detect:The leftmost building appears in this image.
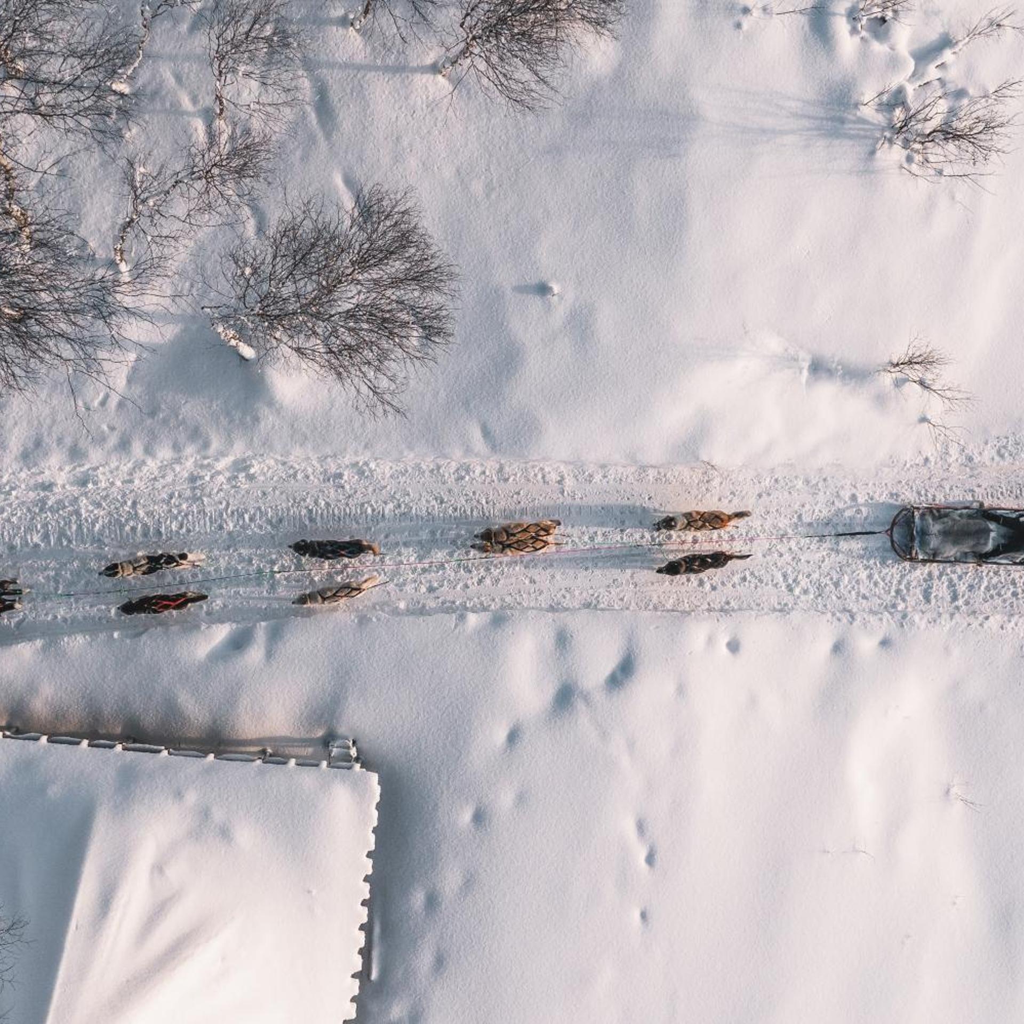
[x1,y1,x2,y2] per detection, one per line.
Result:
[0,726,381,1024]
